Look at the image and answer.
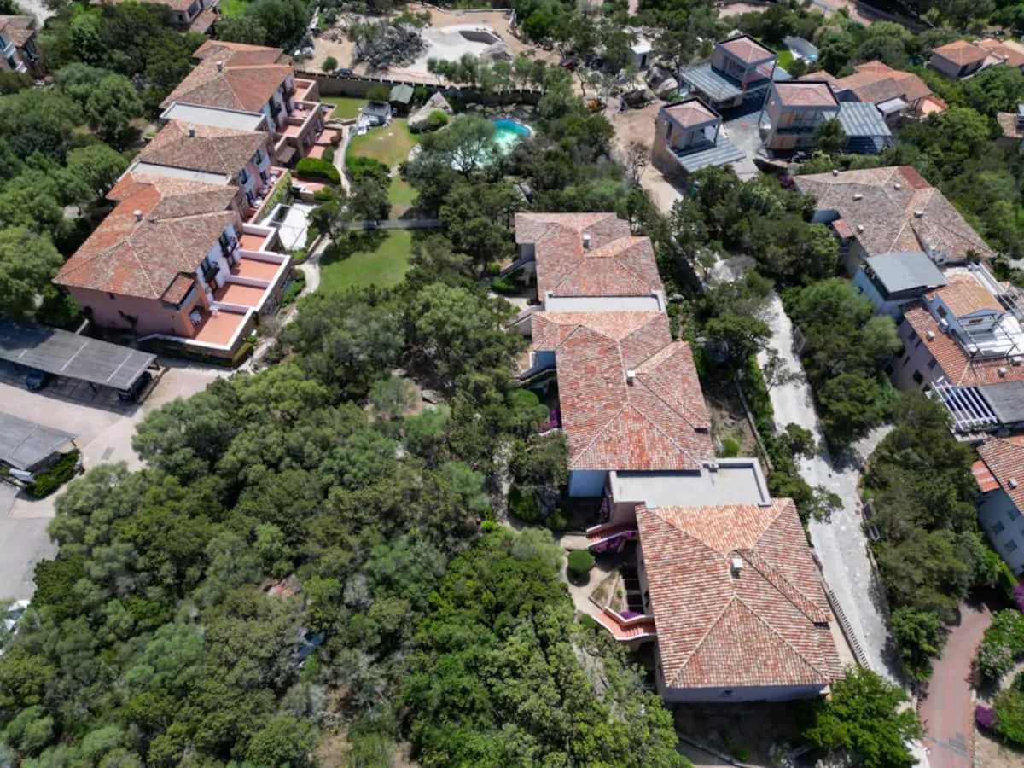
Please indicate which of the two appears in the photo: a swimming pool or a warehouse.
swimming pool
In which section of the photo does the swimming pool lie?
top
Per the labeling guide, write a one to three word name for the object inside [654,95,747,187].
house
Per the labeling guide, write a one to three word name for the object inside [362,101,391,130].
gazebo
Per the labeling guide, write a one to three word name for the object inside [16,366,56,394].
car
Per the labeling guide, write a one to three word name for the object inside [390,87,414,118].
shed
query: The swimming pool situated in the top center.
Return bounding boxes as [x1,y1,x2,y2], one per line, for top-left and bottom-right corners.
[454,120,528,166]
